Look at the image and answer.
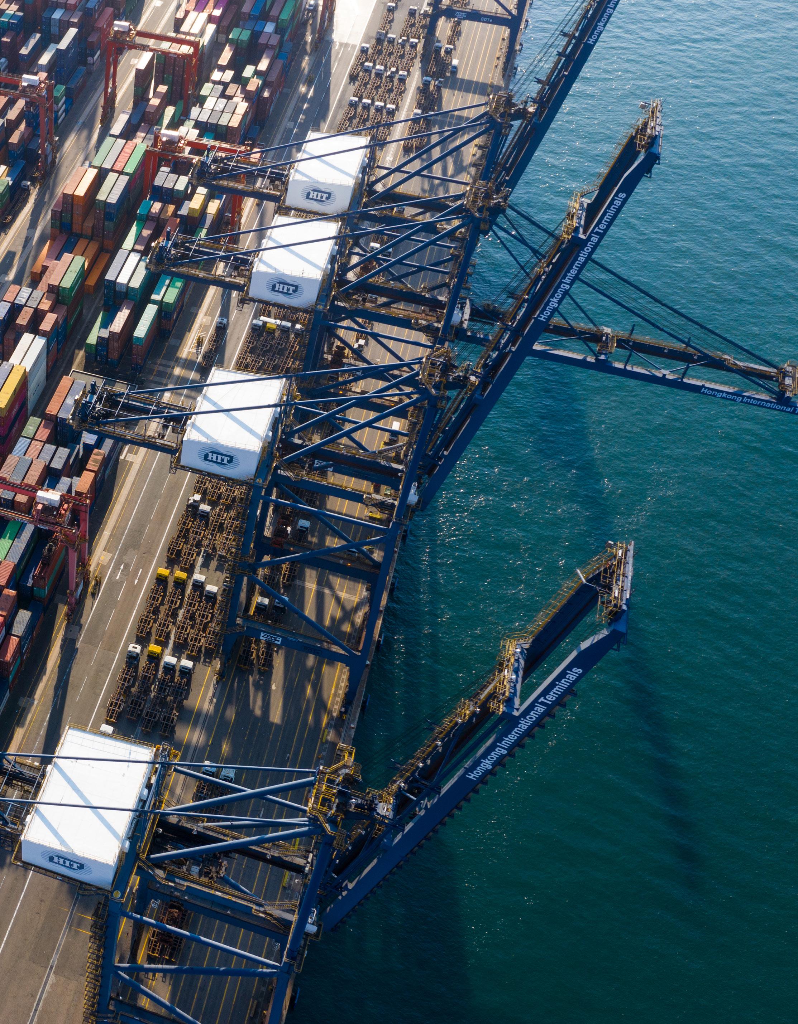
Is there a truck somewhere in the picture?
Yes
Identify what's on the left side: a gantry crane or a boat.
gantry crane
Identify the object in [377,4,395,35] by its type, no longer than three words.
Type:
vehicle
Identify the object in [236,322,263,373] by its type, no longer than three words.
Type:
truck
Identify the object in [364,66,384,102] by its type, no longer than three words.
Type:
vehicle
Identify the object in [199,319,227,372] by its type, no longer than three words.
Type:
truck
